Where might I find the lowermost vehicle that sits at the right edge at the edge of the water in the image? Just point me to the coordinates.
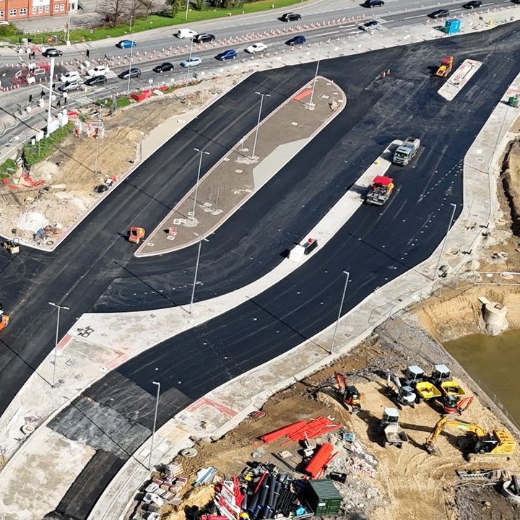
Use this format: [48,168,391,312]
[426,411,508,456]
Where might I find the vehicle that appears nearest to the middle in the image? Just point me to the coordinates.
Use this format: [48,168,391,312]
[129,224,147,244]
